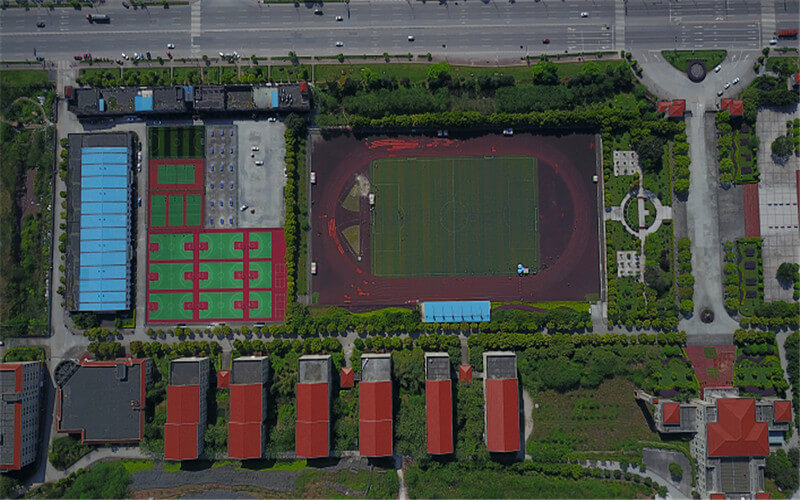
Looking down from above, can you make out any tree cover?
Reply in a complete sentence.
Yes, some tree cover is visible.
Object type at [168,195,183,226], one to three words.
tennis court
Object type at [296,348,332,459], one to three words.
building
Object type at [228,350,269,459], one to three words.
building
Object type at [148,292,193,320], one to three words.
basketball court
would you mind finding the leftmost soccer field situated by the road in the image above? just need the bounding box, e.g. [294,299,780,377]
[148,126,204,158]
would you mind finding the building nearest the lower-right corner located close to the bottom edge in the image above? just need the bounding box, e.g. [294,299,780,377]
[651,381,791,500]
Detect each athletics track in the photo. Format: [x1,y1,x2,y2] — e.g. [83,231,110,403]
[312,130,601,306]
